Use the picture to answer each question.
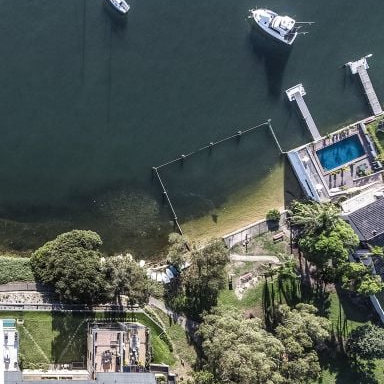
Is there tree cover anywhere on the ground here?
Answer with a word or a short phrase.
Yes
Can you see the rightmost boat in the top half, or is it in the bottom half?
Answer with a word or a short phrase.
top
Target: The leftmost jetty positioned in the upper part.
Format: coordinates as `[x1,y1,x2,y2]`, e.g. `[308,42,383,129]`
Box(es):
[285,81,323,140]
